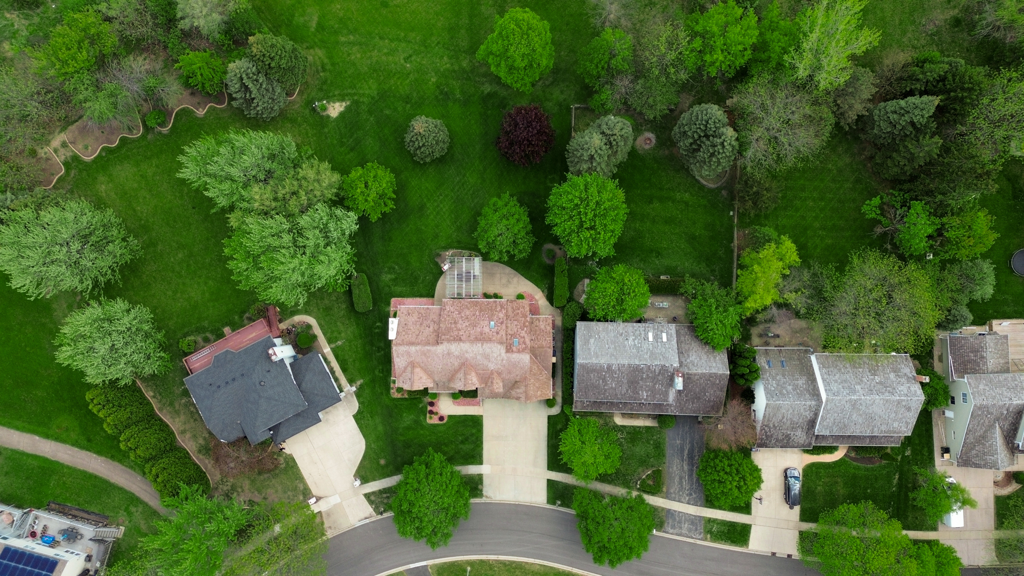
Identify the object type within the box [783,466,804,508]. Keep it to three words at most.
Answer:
car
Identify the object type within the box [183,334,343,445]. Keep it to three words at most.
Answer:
house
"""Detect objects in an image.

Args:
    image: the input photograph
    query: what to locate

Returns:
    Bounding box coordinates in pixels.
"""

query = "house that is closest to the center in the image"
[389,299,553,403]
